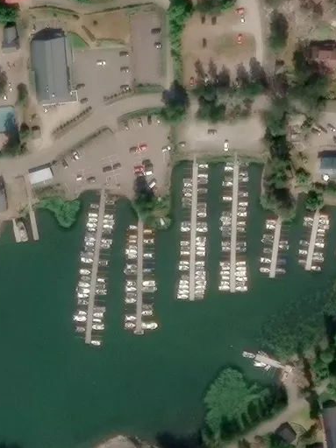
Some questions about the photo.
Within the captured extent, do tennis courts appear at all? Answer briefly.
No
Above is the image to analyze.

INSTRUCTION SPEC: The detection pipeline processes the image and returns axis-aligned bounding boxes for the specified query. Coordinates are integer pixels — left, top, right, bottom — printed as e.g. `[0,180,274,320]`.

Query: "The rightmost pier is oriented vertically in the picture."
[299,208,329,270]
